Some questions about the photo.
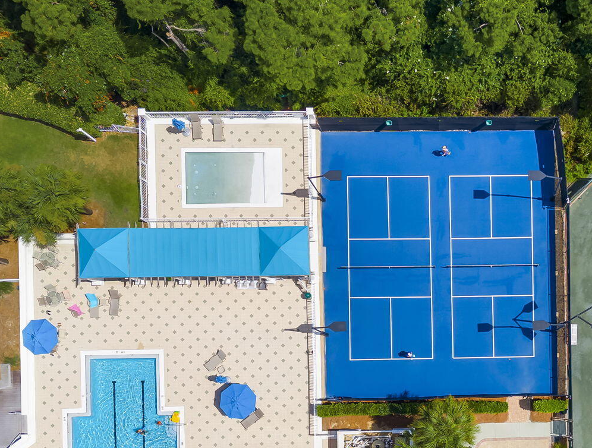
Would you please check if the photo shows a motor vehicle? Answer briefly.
No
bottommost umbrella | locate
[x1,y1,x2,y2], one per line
[220,381,258,418]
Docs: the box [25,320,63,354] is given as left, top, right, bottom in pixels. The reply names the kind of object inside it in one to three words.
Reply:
umbrella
